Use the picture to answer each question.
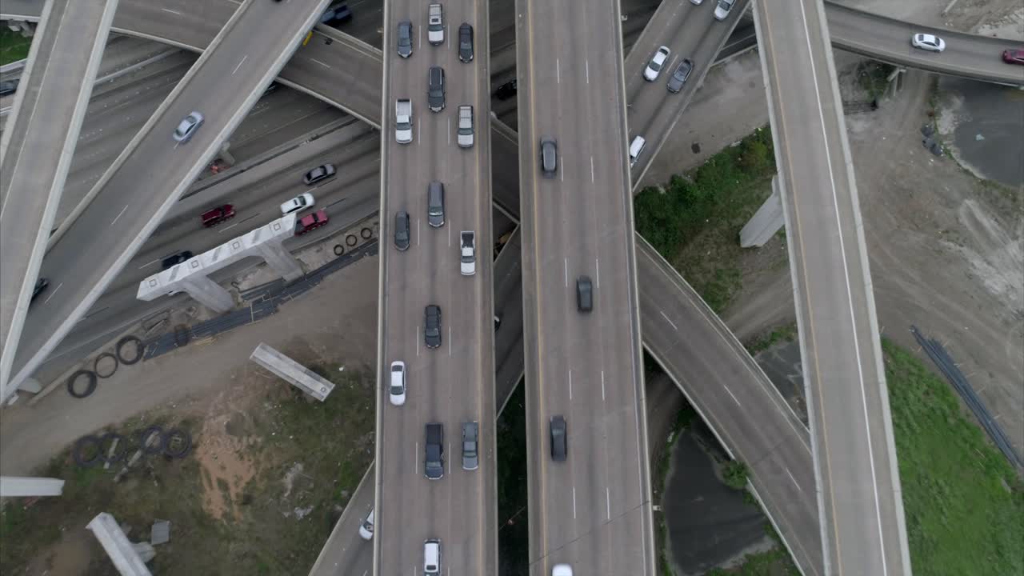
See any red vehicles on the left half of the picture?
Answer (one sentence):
Yes, a red vehicle appears on the left half of the picture.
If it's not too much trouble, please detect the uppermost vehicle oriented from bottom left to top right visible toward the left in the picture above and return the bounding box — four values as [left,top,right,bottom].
[319,0,355,24]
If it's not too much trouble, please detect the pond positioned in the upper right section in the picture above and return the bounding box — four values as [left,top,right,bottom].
[954,82,1024,190]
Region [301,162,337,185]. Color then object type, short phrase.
gray car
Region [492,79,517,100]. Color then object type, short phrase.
black car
